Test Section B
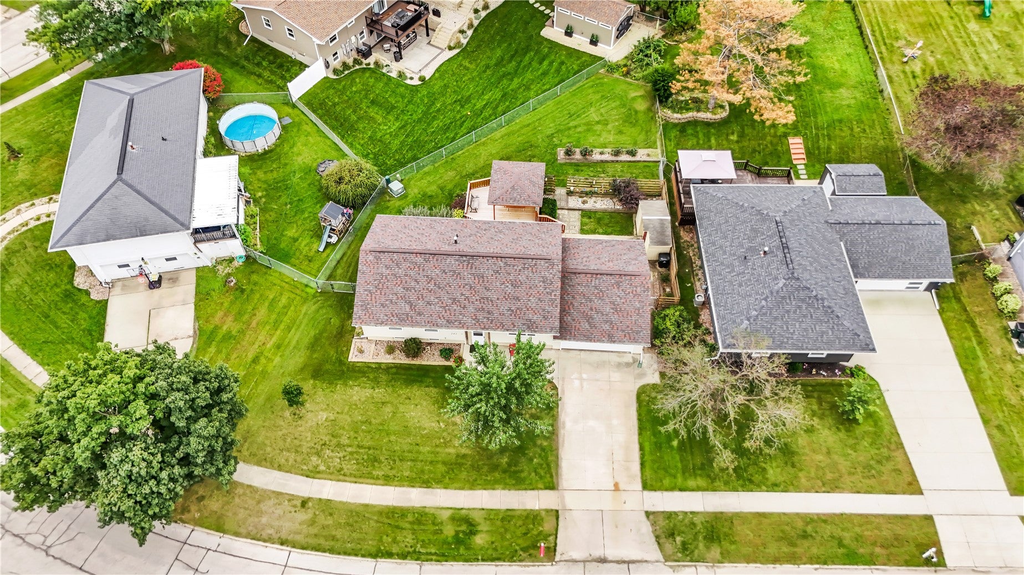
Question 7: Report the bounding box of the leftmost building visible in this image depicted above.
[46,67,247,286]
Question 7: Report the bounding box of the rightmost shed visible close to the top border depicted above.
[552,0,637,49]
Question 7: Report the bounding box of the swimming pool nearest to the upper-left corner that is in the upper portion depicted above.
[219,101,284,153]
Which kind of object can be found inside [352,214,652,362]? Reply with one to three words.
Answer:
house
